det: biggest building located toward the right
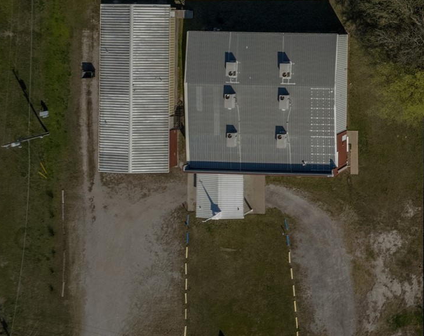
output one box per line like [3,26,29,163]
[180,30,348,178]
